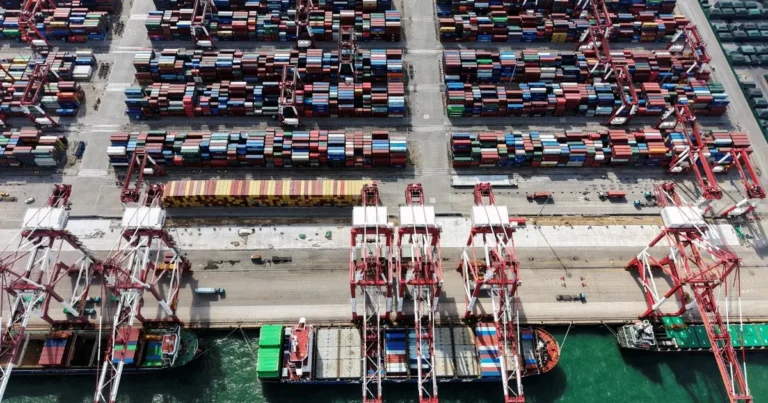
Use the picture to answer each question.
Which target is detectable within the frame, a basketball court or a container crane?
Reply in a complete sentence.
The one in the frame is a container crane.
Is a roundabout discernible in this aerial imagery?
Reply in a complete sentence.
No, there's no roundabout here.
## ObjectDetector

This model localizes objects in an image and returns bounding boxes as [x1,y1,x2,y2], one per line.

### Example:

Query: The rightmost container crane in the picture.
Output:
[711,147,768,216]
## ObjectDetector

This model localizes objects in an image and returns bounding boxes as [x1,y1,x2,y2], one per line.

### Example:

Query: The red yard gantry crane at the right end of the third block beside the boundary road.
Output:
[668,26,714,83]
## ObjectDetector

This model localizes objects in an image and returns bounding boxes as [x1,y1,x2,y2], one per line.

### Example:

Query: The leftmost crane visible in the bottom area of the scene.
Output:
[0,181,104,403]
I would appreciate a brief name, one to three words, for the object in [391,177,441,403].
container crane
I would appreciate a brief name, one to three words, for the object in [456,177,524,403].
container crane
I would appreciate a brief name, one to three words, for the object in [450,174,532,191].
shed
